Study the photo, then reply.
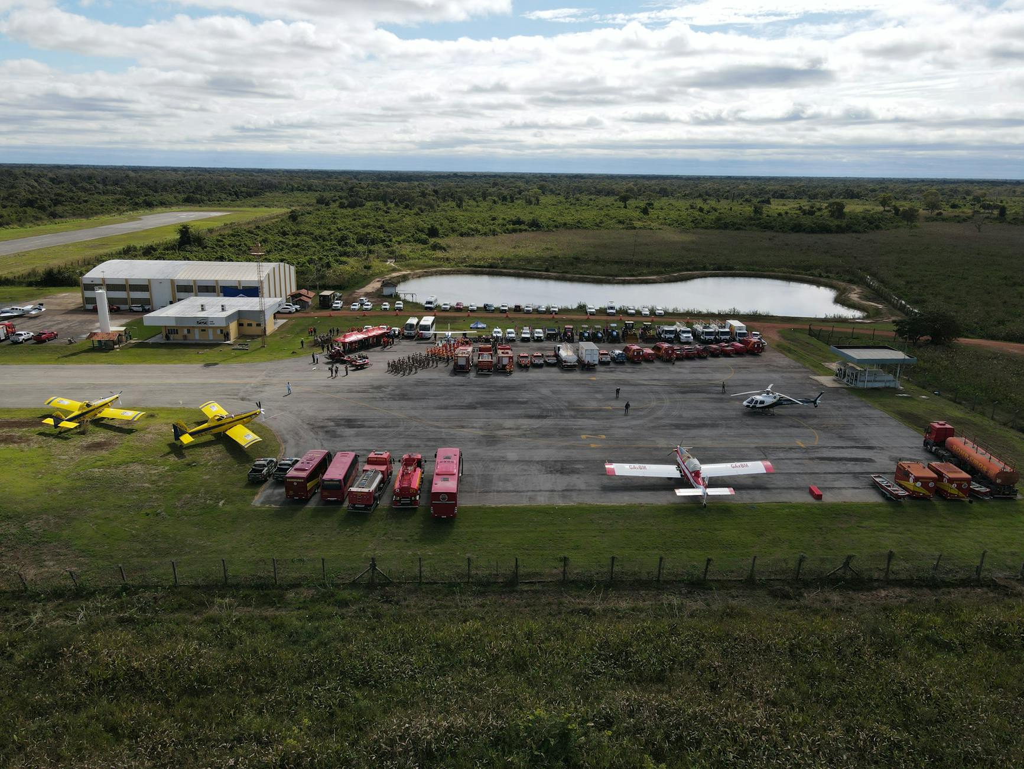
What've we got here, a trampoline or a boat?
boat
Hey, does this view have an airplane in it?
Yes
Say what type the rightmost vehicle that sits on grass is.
truck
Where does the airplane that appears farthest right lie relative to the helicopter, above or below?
below it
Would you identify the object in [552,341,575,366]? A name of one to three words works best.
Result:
truck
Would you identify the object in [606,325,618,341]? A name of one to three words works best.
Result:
vehicle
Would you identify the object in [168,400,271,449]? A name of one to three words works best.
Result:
airplane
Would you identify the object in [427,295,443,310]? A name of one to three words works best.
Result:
vehicle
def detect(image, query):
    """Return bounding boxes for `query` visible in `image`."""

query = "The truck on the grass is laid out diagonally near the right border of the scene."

[920,422,1017,492]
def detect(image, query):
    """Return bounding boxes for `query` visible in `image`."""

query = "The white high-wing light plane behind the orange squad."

[422,325,480,344]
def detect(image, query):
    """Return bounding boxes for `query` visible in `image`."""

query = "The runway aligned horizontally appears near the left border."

[0,212,227,256]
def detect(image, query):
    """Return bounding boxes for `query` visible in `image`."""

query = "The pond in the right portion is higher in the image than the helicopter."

[398,275,864,318]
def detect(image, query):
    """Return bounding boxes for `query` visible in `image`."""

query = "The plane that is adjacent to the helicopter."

[602,439,772,506]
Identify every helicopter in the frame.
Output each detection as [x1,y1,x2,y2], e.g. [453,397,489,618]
[727,386,830,417]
